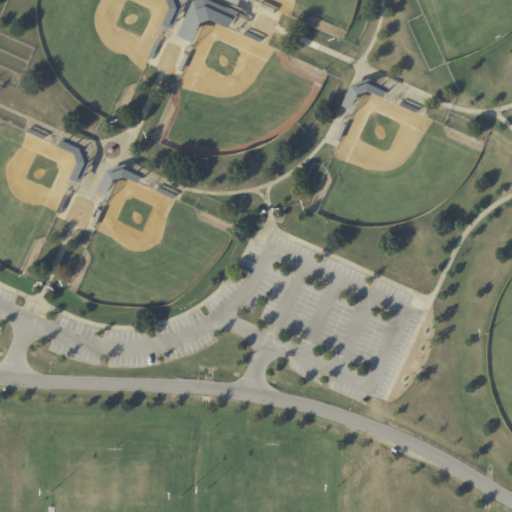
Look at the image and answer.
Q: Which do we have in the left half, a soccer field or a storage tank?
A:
soccer field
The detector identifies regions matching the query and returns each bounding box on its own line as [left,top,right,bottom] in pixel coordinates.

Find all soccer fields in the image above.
[199,412,338,512]
[0,404,197,512]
